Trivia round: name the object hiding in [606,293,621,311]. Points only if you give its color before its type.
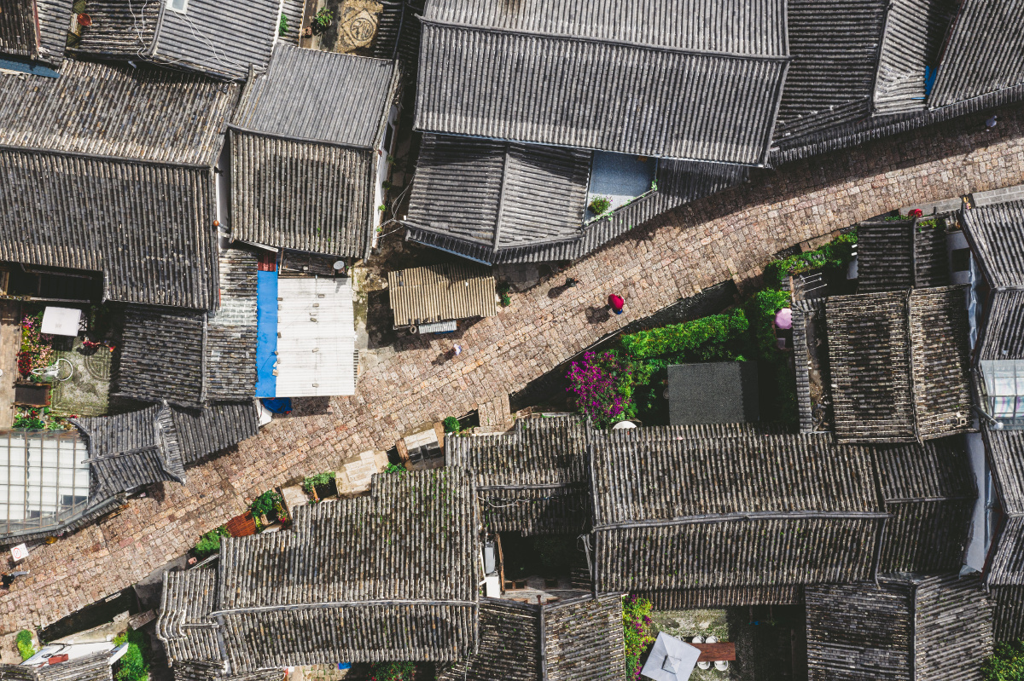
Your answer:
red umbrella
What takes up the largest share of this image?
buildings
